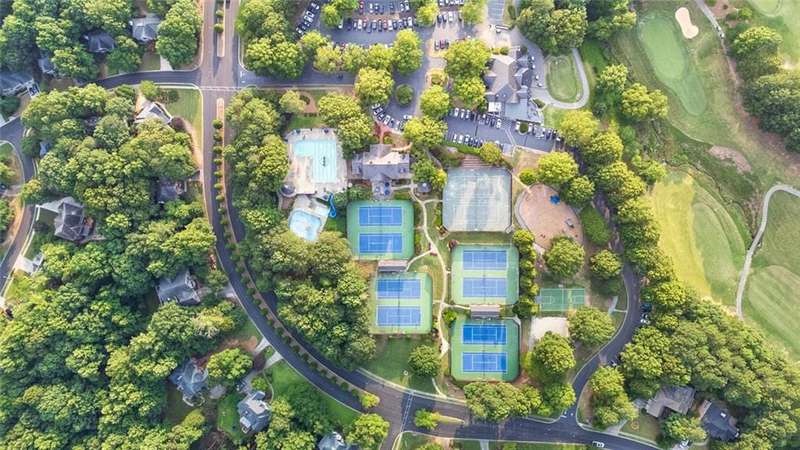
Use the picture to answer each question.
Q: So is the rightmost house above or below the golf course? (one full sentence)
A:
As seen from overhead, the rightmost house falls below the golf course in the picture.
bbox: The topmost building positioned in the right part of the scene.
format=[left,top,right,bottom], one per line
[481,52,535,121]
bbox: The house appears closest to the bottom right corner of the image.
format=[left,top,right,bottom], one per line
[692,399,738,440]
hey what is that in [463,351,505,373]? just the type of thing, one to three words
tennis court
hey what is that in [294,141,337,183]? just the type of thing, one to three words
swimming pool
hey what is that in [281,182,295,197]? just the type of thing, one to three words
gazebo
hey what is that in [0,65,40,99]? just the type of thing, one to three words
house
